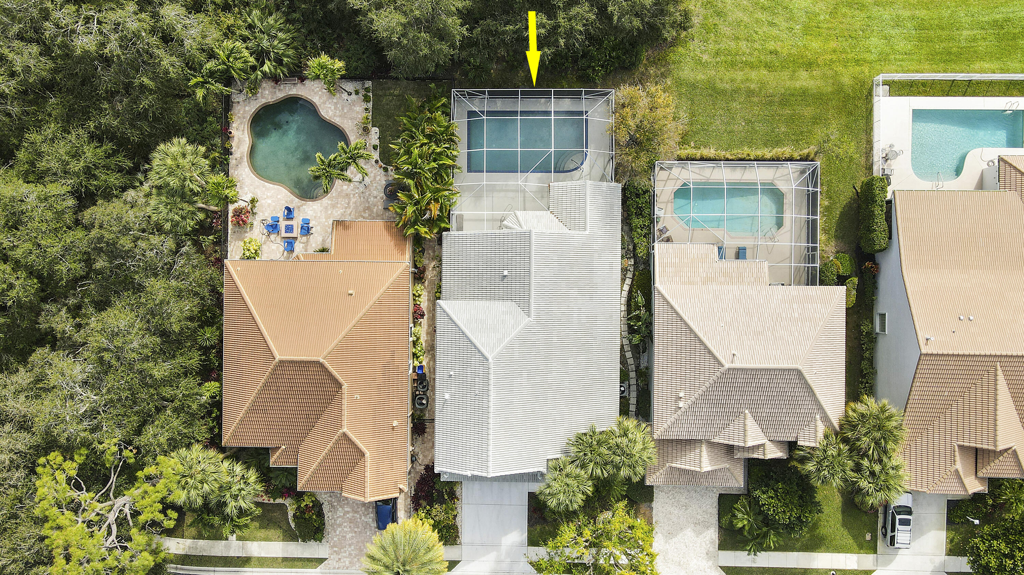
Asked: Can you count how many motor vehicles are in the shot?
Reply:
2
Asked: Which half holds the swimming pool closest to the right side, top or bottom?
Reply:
top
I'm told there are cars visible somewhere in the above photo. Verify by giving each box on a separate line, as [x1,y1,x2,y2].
[881,488,915,551]
[371,497,398,531]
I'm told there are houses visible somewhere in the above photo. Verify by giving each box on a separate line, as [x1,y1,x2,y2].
[221,219,414,503]
[434,180,622,482]
[874,155,1024,496]
[644,243,847,489]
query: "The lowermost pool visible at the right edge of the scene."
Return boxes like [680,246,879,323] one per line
[909,103,1024,188]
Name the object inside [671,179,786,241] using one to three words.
swimming pool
